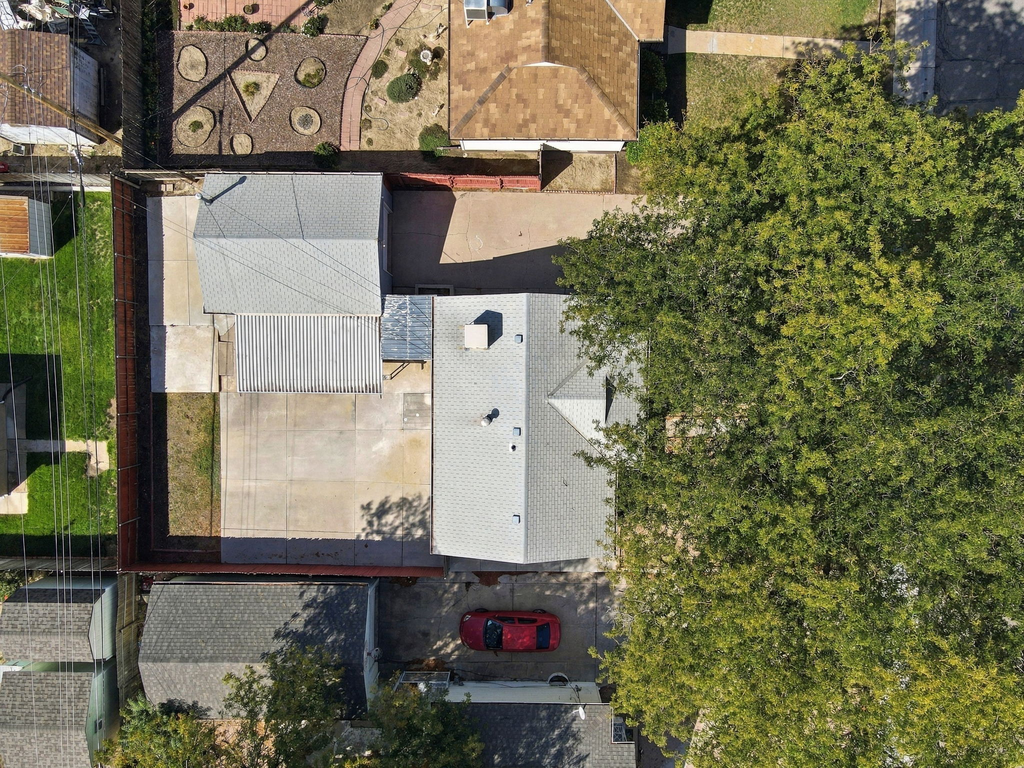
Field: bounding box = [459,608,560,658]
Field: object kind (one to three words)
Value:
car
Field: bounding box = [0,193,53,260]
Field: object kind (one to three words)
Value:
shed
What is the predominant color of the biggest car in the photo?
red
